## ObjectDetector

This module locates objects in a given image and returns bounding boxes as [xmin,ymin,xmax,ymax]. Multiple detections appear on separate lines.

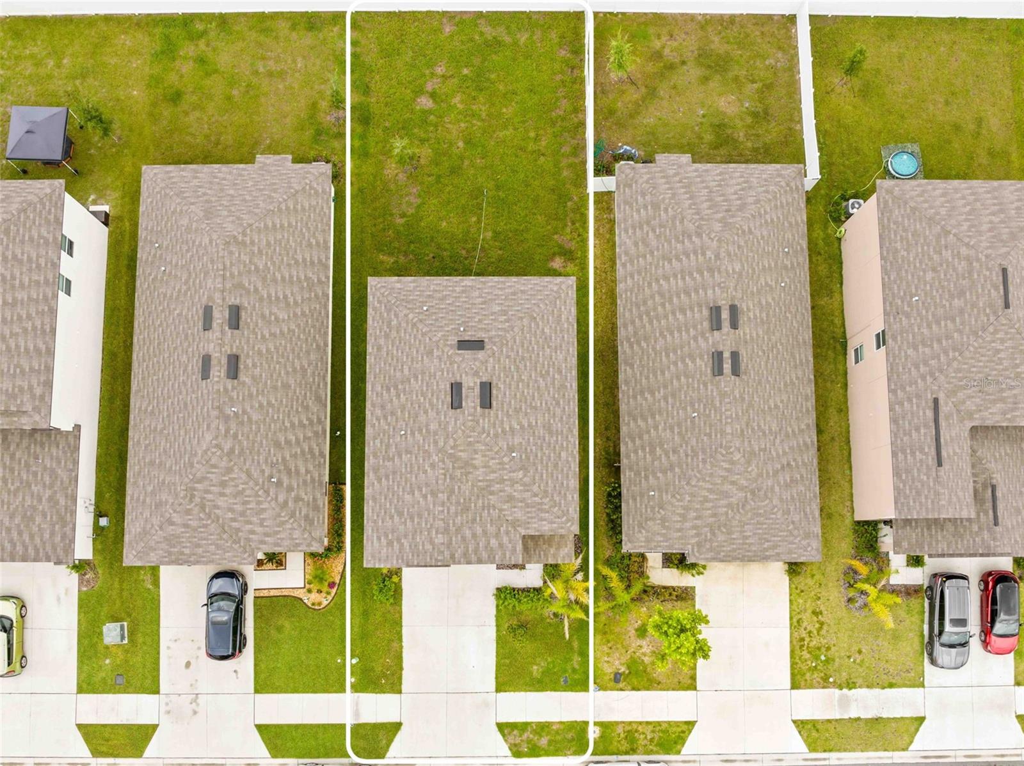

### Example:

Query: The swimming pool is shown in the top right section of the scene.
[889,152,919,179]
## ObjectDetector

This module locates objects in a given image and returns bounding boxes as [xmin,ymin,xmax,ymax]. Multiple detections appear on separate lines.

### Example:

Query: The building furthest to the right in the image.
[840,178,1024,559]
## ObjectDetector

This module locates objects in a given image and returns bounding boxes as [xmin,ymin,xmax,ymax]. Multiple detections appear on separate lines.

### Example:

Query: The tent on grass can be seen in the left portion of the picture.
[6,105,86,174]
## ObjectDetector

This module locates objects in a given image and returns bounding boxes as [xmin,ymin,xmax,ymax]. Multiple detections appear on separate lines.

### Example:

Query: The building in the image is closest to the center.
[362,275,581,567]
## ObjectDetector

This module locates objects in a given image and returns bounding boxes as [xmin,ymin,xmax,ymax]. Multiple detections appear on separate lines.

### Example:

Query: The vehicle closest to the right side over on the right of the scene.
[974,568,1024,654]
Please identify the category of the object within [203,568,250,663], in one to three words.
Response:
car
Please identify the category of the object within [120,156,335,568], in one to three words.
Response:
house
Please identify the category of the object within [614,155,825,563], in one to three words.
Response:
house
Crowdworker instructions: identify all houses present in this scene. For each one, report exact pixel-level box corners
[120,156,335,568]
[362,275,581,567]
[0,178,110,563]
[840,178,1024,559]
[614,155,825,563]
